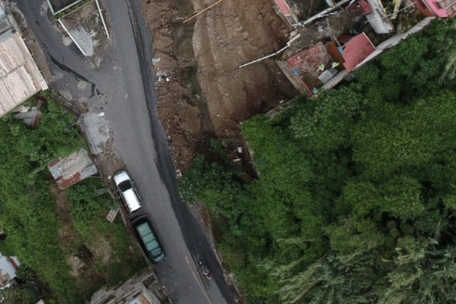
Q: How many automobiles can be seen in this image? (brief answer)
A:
two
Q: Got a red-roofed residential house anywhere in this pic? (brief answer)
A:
Yes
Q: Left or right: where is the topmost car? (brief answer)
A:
left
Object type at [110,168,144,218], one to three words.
car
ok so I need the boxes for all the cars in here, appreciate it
[110,168,144,218]
[128,213,167,267]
